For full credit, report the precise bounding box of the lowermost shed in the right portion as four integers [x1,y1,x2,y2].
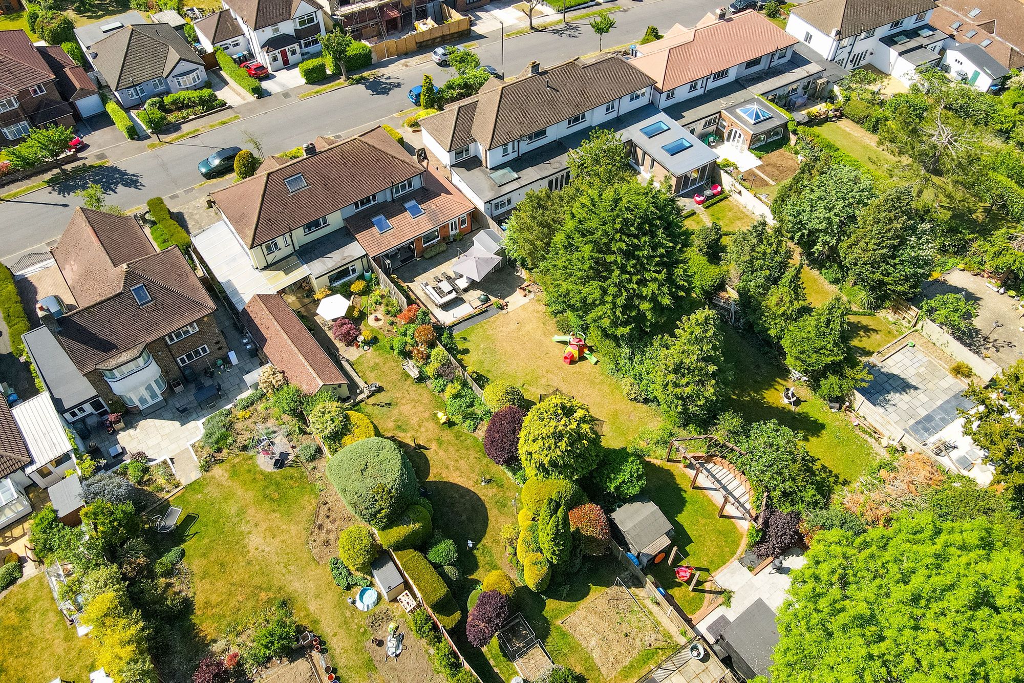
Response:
[606,499,682,585]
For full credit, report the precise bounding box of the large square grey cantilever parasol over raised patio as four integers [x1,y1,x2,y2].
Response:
[451,229,502,282]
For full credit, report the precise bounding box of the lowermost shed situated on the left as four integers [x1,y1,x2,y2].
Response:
[366,550,408,608]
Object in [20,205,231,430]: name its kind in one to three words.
house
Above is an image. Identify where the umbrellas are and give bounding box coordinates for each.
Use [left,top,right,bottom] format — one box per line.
[315,296,353,323]
[451,229,502,282]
